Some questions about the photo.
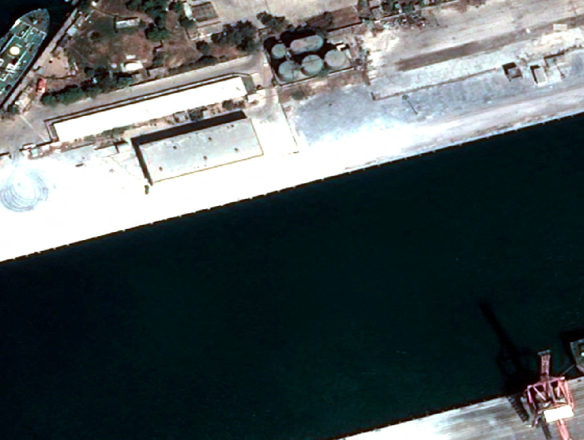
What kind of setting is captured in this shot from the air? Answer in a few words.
port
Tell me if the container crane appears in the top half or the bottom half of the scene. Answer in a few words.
bottom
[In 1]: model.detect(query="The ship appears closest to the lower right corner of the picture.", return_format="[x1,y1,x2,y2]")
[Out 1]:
[569,339,584,373]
